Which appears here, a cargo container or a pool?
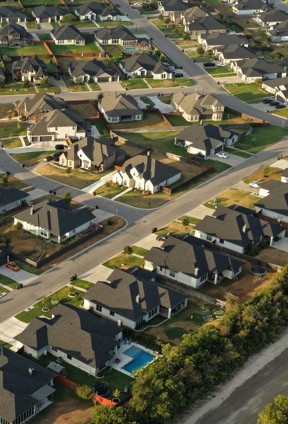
pool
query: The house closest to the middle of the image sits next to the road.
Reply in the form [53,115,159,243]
[112,158,179,200]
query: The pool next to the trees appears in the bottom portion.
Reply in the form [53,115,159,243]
[111,340,160,377]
